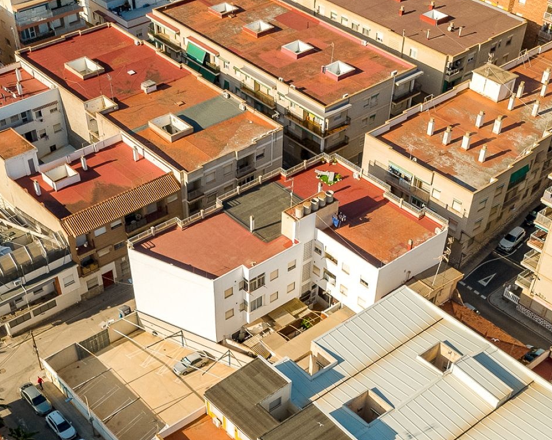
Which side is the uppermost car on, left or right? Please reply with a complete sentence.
The uppermost car appears in the right half of the scene.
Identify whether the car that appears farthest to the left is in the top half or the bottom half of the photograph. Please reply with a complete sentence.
The car that appears farthest to the left is in the bottom half of the image.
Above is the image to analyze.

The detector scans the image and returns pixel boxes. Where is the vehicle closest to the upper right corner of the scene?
[521,202,550,228]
